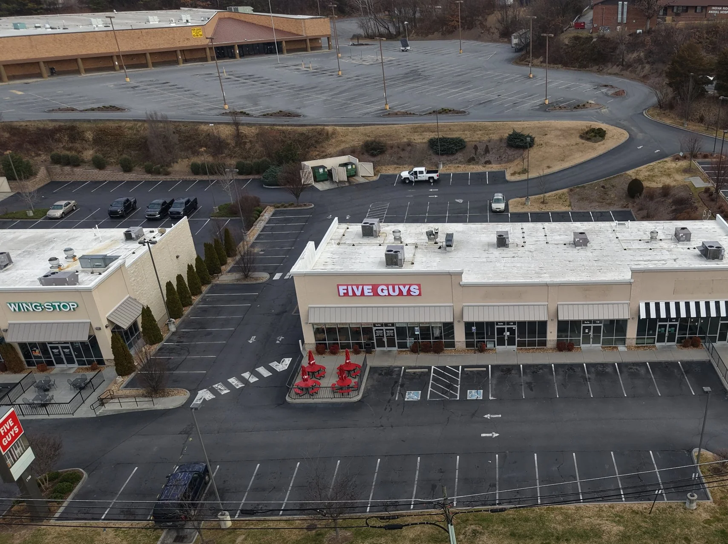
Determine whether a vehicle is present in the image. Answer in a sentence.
Yes, the image includes a vehicle.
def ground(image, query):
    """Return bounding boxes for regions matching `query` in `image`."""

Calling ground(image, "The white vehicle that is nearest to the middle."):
[400,167,440,182]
